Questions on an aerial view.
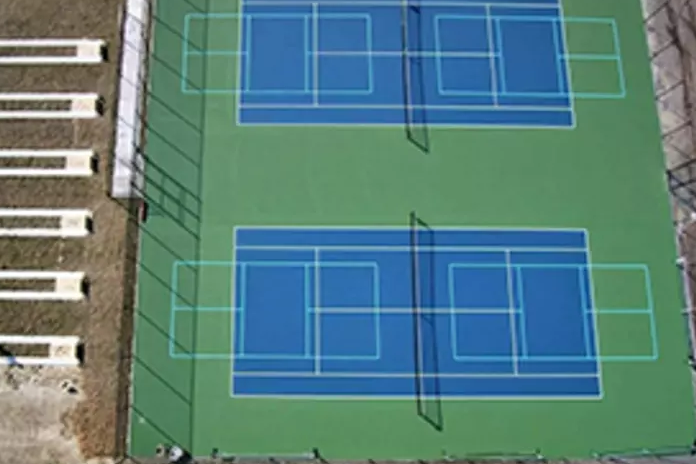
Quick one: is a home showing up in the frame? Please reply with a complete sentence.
No, this view has no home in it.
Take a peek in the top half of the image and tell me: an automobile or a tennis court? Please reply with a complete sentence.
The one visible in the top half of the image is a tennis court.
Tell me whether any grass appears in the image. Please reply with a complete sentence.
Yes, there's grass in this view.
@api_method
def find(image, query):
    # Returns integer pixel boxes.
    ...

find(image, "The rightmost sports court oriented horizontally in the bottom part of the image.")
[448,264,660,359]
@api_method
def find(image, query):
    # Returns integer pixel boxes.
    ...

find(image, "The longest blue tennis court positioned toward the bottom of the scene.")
[232,227,604,398]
